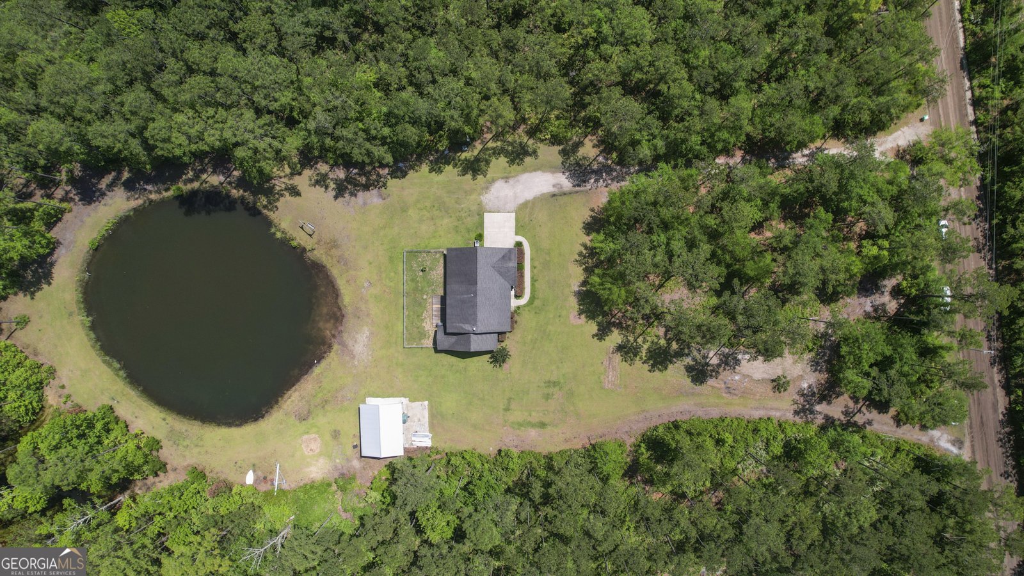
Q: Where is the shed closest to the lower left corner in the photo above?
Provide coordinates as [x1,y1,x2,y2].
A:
[360,403,404,457]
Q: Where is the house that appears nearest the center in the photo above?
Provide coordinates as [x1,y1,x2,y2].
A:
[437,246,517,351]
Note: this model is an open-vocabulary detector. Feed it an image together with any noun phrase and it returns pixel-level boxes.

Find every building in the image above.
[437,246,517,351]
[360,403,404,457]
